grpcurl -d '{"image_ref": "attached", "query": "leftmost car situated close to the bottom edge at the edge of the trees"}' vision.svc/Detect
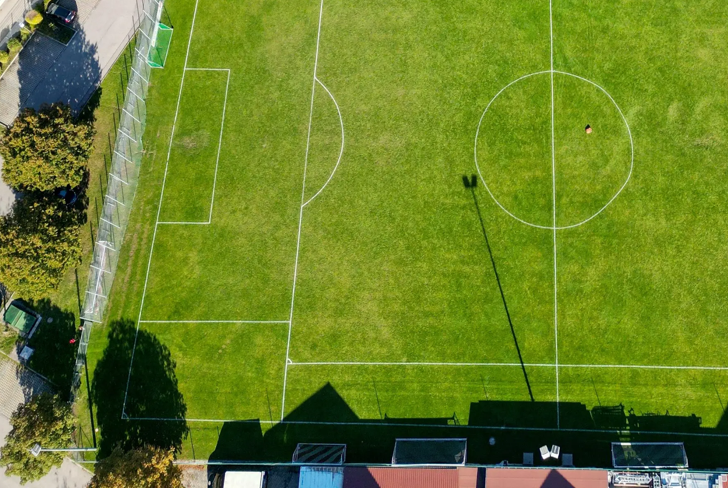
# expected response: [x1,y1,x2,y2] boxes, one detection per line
[203,467,225,488]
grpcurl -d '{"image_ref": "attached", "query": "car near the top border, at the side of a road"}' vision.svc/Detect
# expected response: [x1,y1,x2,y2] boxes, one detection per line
[43,4,79,26]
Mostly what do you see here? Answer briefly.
grass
